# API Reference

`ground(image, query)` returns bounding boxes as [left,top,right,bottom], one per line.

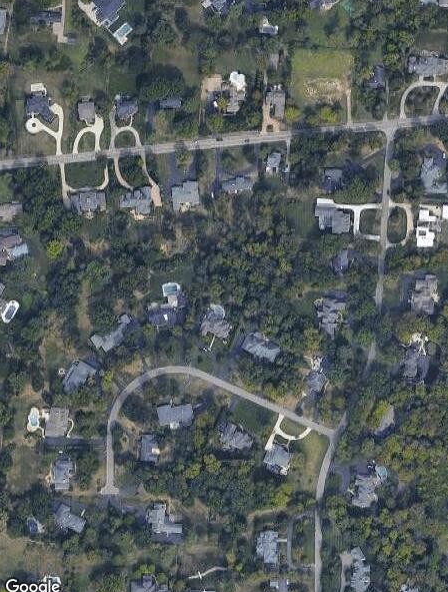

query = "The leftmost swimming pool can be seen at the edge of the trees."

[1,299,19,322]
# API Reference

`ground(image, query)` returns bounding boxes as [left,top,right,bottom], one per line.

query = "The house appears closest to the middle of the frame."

[200,302,230,337]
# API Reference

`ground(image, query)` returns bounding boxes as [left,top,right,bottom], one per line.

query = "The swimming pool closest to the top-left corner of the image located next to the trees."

[113,21,133,39]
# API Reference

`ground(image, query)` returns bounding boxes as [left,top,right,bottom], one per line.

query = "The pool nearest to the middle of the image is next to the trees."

[163,283,181,296]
